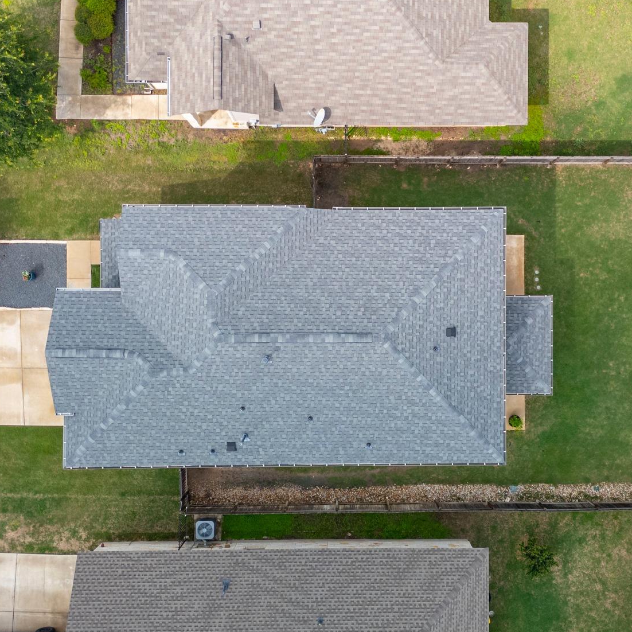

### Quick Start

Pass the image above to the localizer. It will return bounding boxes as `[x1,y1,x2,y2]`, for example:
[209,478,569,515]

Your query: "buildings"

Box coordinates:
[45,203,554,468]
[110,0,529,132]
[68,538,490,632]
